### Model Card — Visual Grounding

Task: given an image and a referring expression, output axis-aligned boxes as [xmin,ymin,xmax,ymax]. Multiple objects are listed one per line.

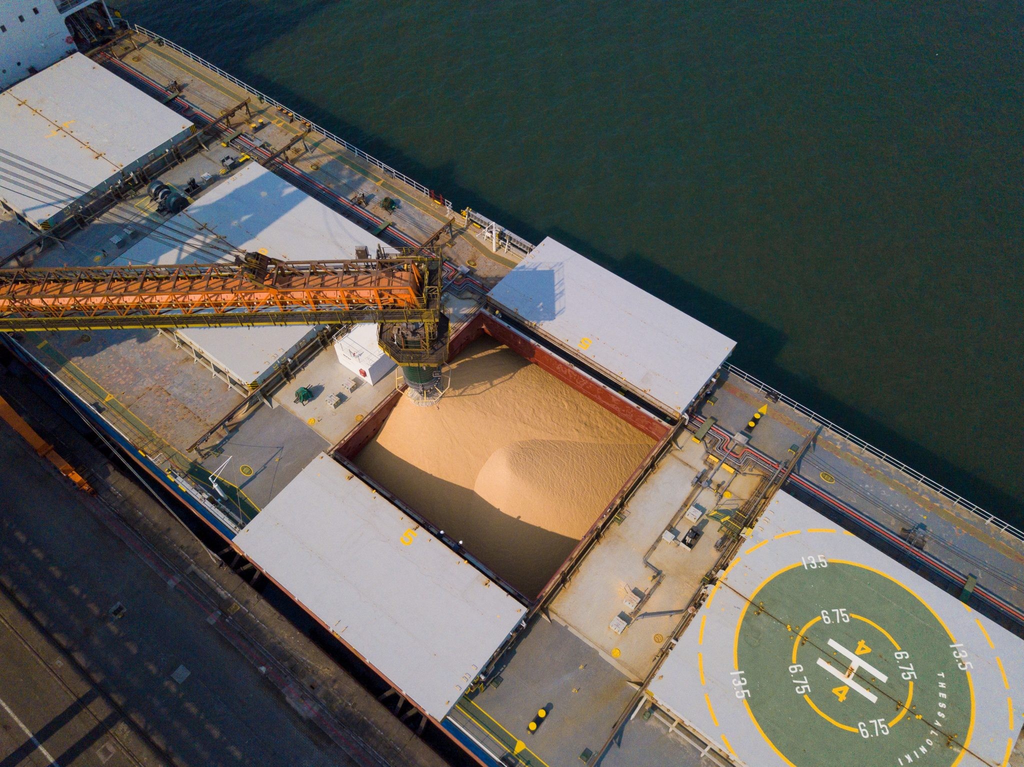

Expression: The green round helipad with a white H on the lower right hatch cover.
[699,528,1013,767]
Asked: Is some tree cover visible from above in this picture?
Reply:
No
